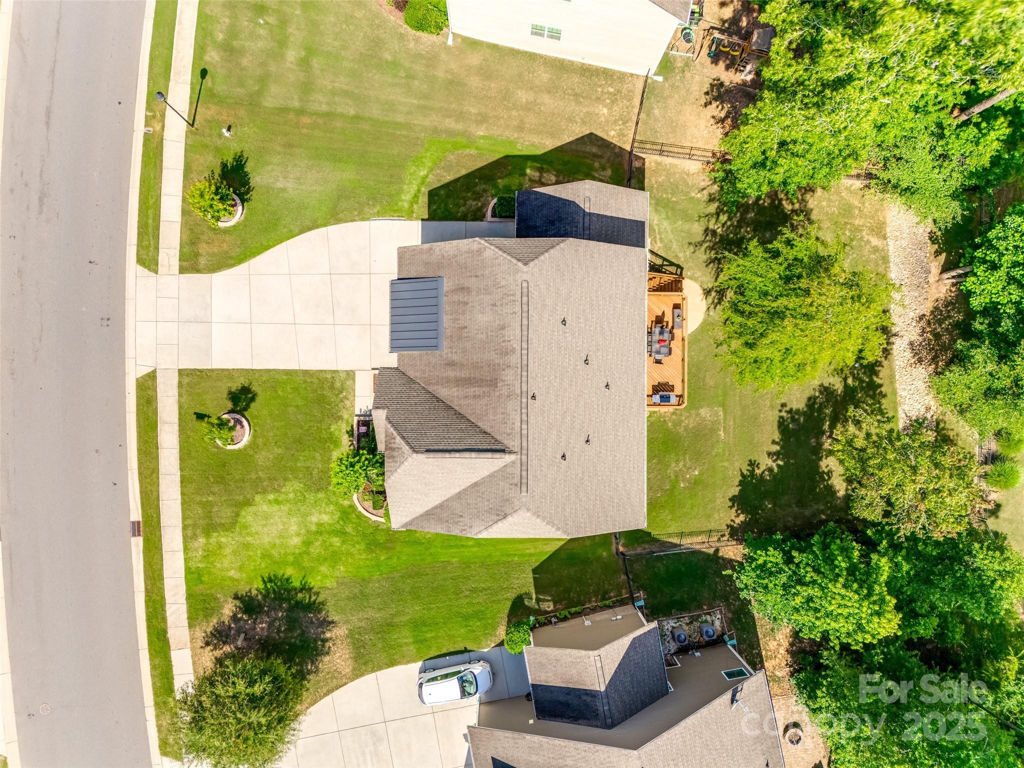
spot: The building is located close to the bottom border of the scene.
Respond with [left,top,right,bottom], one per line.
[466,607,788,768]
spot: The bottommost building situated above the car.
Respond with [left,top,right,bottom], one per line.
[372,179,651,541]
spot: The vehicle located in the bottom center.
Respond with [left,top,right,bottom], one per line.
[414,658,493,707]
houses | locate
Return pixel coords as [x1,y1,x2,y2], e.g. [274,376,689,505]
[466,607,788,768]
[372,179,651,541]
[442,0,695,77]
